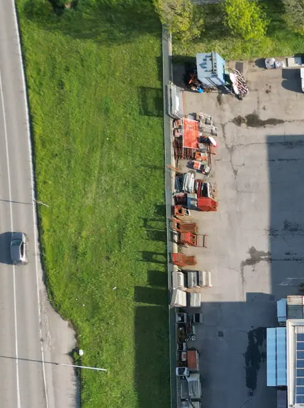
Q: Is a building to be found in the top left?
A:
No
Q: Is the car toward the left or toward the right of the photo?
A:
left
